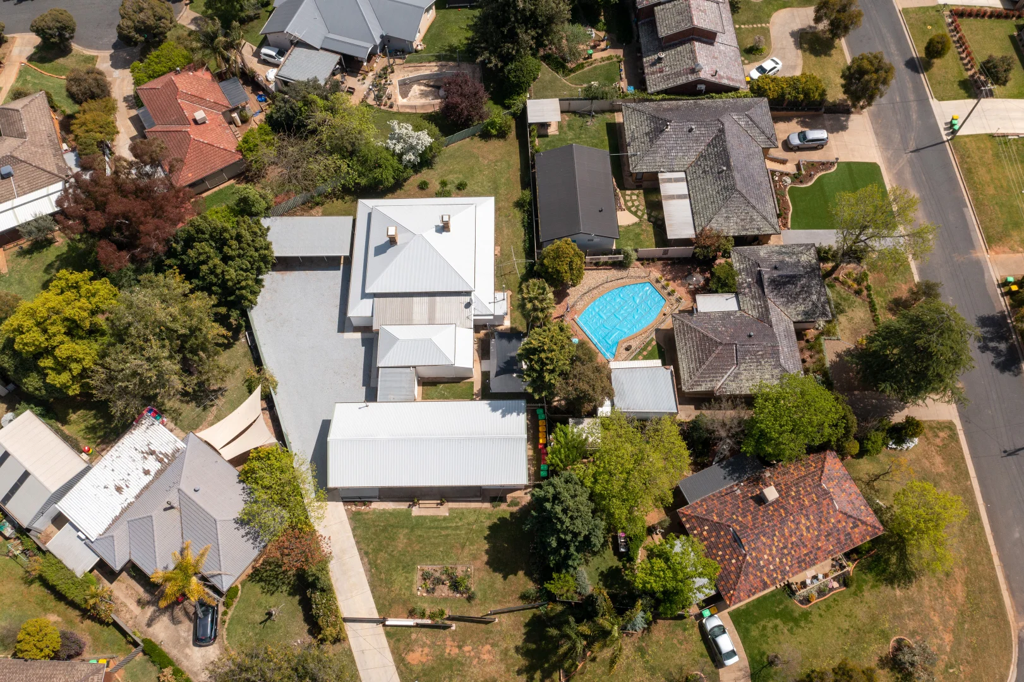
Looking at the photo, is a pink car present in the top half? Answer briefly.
No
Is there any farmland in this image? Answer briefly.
No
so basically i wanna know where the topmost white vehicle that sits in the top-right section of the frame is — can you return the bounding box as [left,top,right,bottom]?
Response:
[750,54,785,81]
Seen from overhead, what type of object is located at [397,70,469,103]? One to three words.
swimming pool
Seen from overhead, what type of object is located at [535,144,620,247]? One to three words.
shed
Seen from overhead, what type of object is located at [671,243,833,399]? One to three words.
house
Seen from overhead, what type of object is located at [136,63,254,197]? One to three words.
house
